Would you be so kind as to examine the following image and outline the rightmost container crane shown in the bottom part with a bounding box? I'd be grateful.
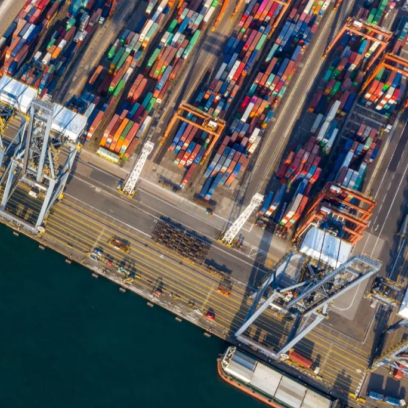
[342,263,408,369]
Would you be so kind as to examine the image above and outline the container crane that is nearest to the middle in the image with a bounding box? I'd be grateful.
[159,100,230,164]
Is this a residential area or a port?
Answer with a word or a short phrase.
port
